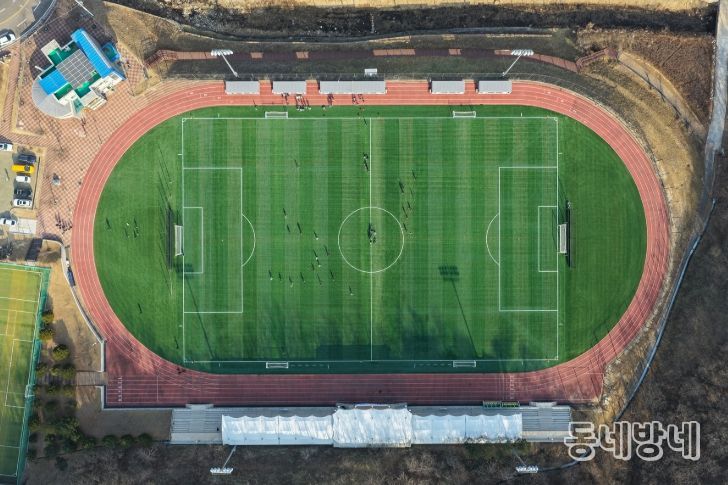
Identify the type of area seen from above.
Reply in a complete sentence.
The area seen from above is a sports ground.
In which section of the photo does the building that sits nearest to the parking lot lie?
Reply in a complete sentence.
You can find the building that sits nearest to the parking lot in the top left area of the picture.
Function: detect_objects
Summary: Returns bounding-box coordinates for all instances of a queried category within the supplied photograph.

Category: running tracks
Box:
[70,75,670,408]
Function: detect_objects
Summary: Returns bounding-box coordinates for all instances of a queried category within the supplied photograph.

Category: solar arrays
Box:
[55,50,97,89]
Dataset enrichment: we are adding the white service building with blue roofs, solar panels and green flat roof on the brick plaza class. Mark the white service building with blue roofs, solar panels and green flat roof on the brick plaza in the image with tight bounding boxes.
[32,28,129,120]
